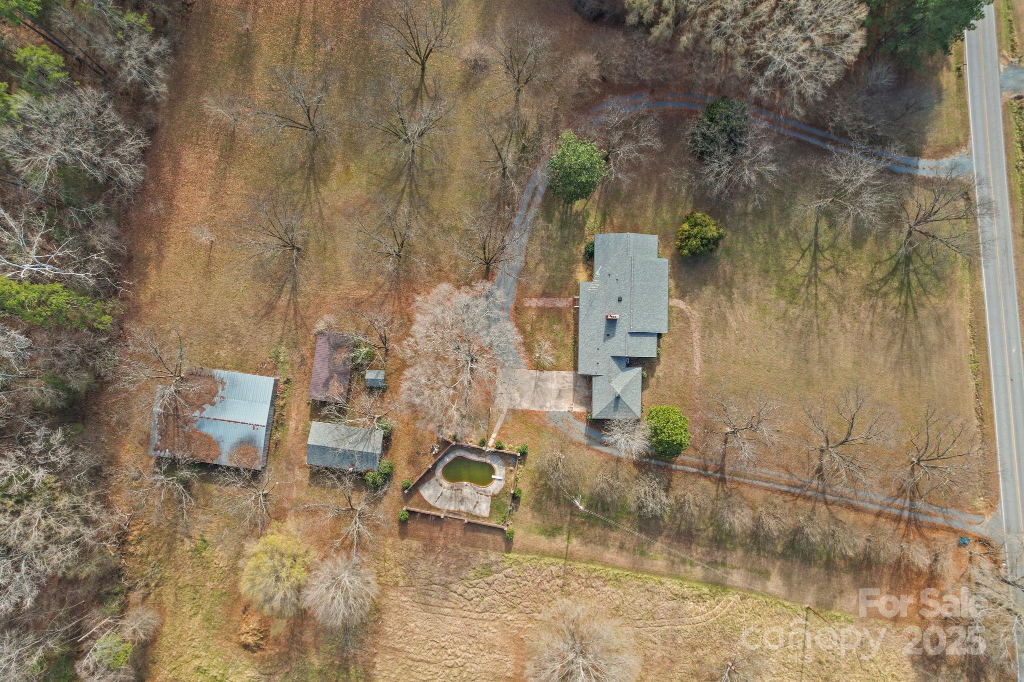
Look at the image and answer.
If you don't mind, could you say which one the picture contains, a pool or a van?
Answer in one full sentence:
This aerial view contains a pool.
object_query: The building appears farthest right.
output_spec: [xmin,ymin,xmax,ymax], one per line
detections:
[574,232,668,420]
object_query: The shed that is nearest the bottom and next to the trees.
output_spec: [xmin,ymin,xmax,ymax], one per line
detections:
[307,421,383,472]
